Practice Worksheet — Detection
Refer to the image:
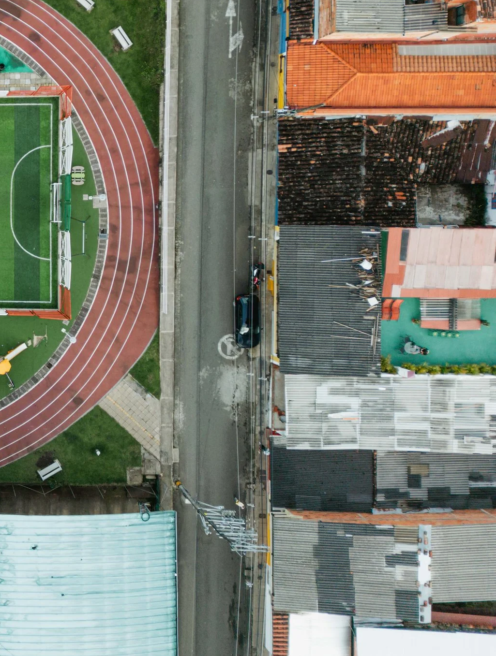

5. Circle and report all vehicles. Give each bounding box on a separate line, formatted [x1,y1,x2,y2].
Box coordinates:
[253,262,268,289]
[233,295,263,348]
